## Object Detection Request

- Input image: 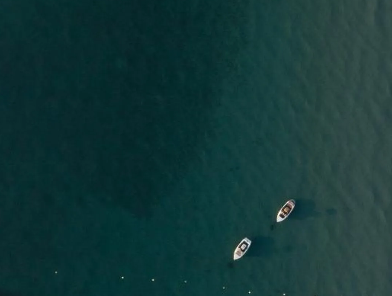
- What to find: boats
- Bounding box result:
[235,237,252,259]
[278,200,296,222]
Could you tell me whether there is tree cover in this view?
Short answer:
No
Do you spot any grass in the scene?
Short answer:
No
